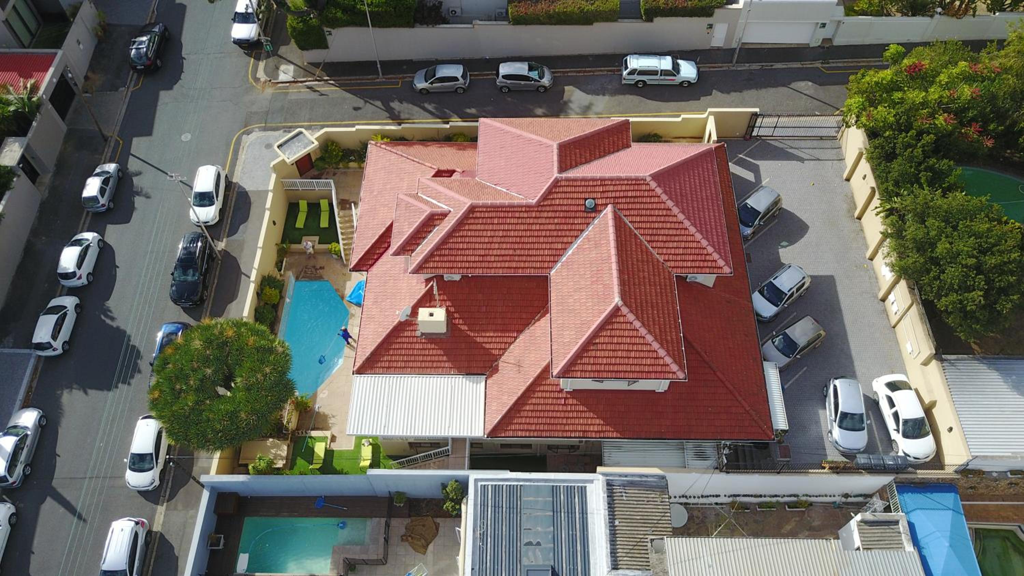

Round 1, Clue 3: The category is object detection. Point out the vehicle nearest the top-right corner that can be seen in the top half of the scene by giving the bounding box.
[740,185,788,244]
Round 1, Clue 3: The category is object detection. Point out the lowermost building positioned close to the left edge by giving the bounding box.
[0,138,55,197]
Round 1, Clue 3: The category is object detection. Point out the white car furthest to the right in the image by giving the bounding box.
[875,376,934,461]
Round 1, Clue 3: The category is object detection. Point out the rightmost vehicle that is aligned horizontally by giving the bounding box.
[620,49,698,85]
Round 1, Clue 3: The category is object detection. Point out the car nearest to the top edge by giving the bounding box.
[232,0,267,47]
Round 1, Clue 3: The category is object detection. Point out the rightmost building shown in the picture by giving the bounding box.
[939,354,1024,473]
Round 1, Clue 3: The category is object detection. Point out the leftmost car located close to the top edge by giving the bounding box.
[126,21,171,74]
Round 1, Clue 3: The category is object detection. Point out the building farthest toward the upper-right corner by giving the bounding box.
[741,0,842,46]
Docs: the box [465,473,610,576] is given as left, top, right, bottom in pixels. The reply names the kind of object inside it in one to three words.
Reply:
building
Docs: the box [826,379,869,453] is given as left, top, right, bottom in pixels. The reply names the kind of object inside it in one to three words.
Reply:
car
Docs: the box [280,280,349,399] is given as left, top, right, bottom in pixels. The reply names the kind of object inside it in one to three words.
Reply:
swimming pool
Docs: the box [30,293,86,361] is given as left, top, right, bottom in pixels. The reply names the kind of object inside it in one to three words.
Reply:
car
